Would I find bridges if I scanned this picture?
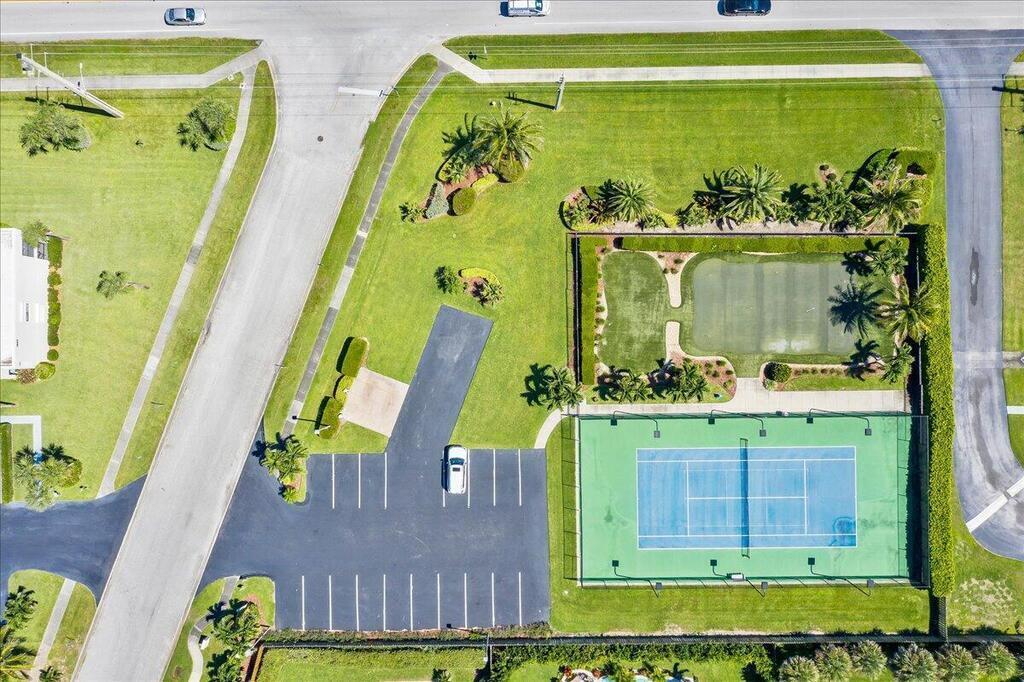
No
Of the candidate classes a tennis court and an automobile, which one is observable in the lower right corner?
tennis court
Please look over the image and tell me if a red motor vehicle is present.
No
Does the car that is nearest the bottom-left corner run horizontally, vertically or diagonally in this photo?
vertically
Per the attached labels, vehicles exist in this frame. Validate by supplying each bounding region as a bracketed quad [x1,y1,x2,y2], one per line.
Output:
[446,447,468,493]
[161,3,205,26]
[728,0,775,16]
[507,0,552,17]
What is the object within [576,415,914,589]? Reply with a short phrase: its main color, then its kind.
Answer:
green tennis court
